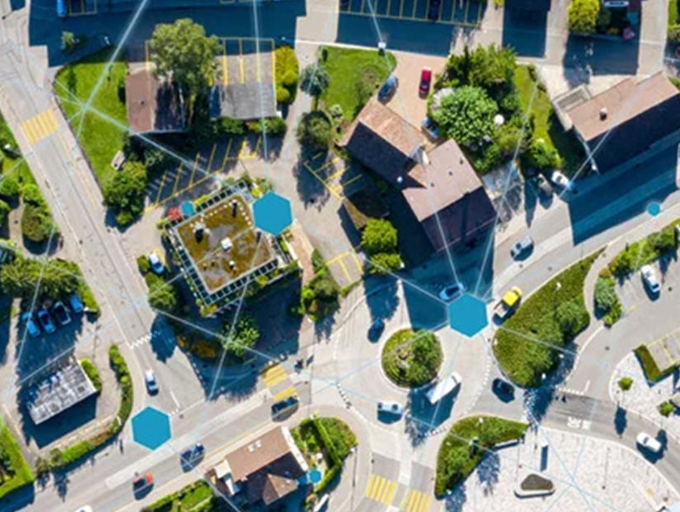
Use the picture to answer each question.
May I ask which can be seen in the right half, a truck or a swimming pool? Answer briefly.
truck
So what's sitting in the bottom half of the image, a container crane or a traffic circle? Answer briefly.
traffic circle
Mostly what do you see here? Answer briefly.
paved ground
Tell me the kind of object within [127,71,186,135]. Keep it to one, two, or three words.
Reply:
building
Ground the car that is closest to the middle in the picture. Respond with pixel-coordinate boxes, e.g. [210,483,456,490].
[369,320,382,340]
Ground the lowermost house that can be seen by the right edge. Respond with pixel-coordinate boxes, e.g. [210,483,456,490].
[551,73,680,175]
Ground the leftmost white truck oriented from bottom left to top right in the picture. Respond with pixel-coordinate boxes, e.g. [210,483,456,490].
[425,371,462,405]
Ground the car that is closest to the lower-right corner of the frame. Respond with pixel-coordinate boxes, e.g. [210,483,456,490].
[637,434,660,451]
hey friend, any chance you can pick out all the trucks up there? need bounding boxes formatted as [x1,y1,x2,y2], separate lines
[425,371,462,405]
[492,288,521,318]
